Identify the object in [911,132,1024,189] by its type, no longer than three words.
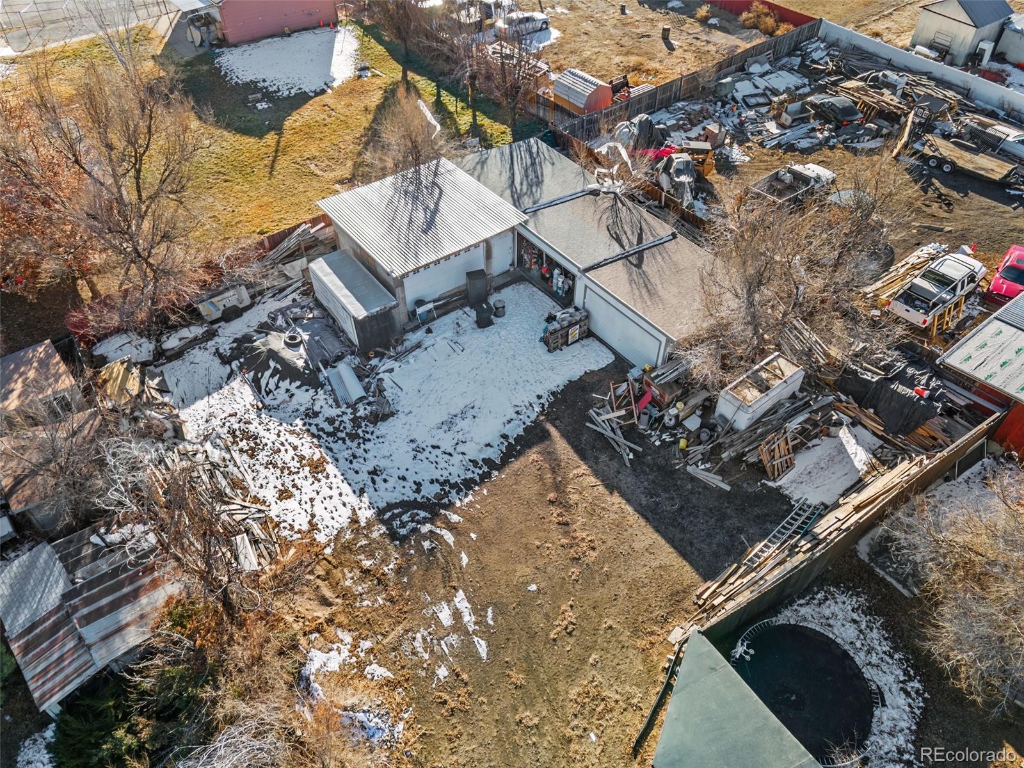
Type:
trailer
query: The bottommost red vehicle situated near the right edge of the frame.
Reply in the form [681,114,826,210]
[981,244,1024,306]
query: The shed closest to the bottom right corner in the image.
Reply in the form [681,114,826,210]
[652,628,823,768]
